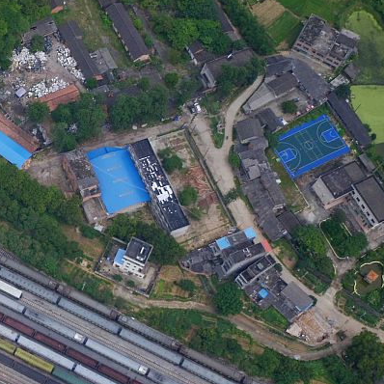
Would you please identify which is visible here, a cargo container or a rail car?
rail car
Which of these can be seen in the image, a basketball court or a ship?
basketball court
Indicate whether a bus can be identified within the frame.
Yes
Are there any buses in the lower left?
Yes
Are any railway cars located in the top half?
No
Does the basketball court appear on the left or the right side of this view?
right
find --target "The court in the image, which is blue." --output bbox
[274,115,350,175]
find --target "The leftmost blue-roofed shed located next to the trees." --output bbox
[0,132,32,172]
